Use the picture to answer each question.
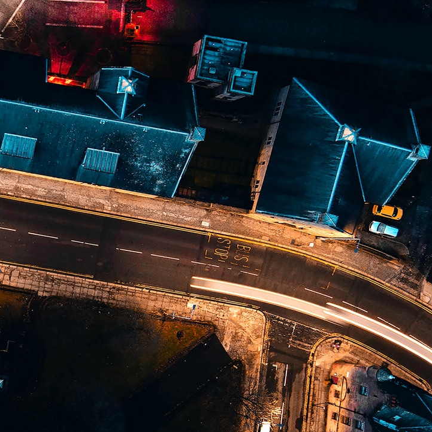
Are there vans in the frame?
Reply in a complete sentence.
Yes, I can see a van in this picture.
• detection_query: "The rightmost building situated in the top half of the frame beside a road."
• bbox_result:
[244,75,432,240]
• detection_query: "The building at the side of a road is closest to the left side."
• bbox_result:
[0,49,208,203]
